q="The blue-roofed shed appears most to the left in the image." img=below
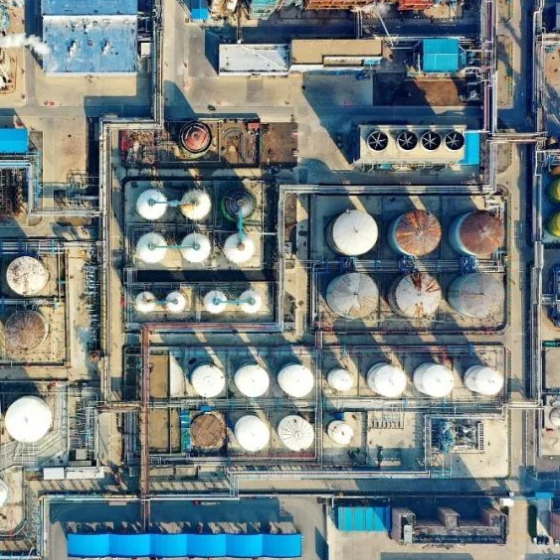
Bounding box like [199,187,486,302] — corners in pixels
[0,129,29,154]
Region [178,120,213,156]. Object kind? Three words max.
storage tank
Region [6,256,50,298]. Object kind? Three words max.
storage tank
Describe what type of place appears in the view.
industrial area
